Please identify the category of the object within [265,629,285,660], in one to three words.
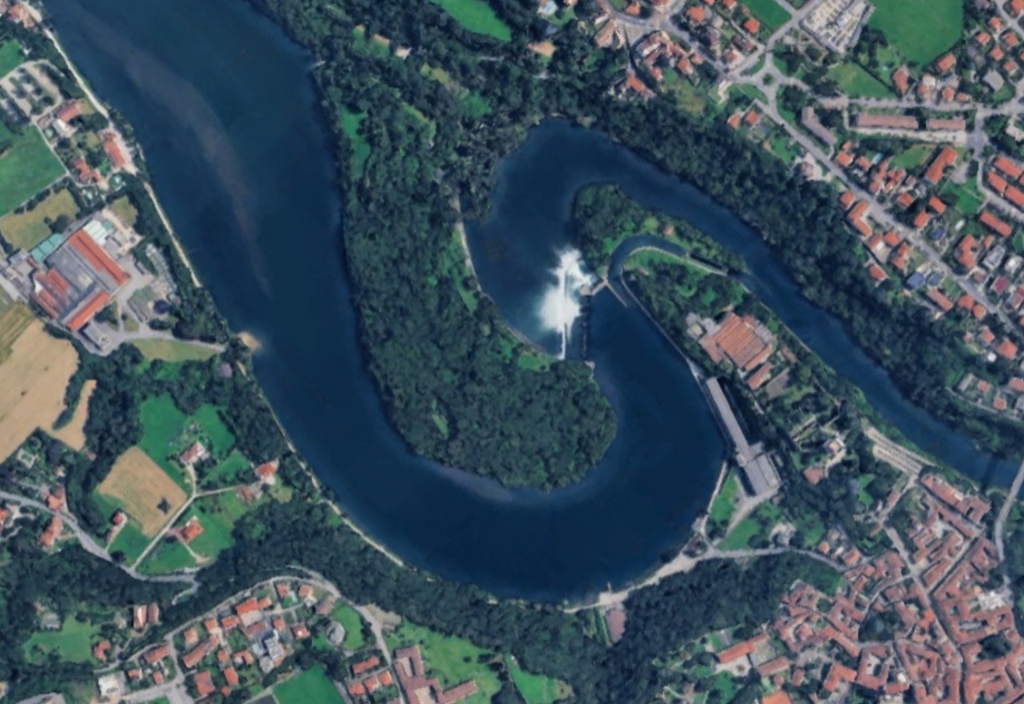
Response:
house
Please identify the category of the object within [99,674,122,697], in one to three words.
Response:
house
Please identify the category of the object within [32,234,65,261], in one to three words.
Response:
shed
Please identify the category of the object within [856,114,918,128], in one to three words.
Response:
building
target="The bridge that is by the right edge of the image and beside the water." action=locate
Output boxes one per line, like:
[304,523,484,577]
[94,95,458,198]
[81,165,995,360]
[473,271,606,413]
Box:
[997,453,1024,531]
